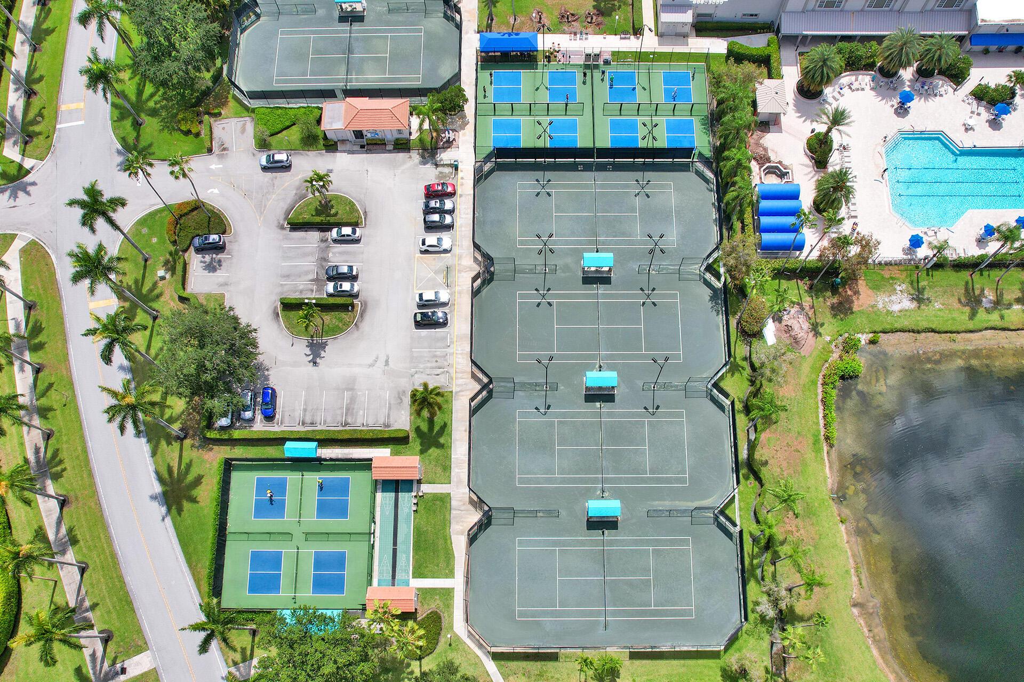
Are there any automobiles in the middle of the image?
Yes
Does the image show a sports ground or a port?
sports ground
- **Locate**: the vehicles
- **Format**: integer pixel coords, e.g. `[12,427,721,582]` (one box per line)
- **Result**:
[424,183,455,199]
[259,155,289,170]
[330,229,361,244]
[238,391,255,421]
[325,283,359,299]
[325,267,358,282]
[423,214,453,230]
[215,410,231,427]
[414,312,447,328]
[418,237,452,252]
[192,237,225,252]
[422,200,454,215]
[415,292,450,307]
[258,389,276,419]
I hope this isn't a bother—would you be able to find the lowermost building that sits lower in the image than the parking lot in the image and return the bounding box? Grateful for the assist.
[365,587,420,612]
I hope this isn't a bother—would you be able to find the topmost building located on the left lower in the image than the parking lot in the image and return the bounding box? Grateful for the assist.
[371,456,424,481]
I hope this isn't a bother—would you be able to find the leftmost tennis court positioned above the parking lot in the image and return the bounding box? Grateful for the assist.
[236,0,458,106]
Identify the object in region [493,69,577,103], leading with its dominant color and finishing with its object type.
blue sports court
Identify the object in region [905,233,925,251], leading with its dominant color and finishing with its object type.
blue umbrella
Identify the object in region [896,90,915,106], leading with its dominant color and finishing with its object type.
blue umbrella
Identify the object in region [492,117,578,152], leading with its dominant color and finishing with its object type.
blue sports court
